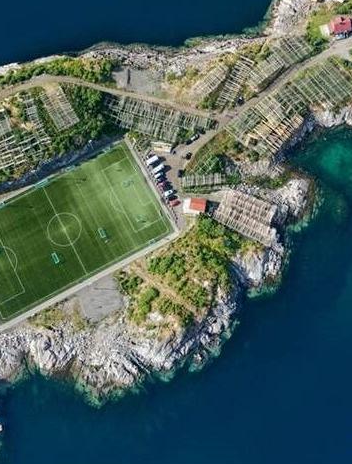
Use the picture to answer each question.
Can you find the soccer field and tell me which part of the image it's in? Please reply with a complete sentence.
The soccer field appears toward the left of the photo.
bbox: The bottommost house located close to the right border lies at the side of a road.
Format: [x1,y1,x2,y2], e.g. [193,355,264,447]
[321,17,352,37]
